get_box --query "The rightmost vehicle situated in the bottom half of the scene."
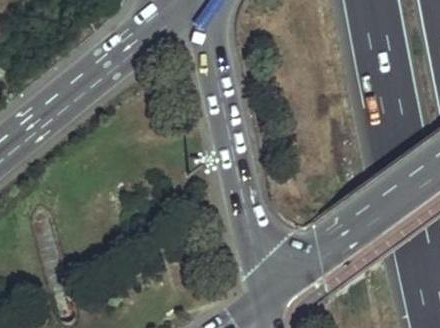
[288,238,310,252]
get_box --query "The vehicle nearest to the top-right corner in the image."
[378,52,390,74]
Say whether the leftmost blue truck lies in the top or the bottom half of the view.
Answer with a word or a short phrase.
top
